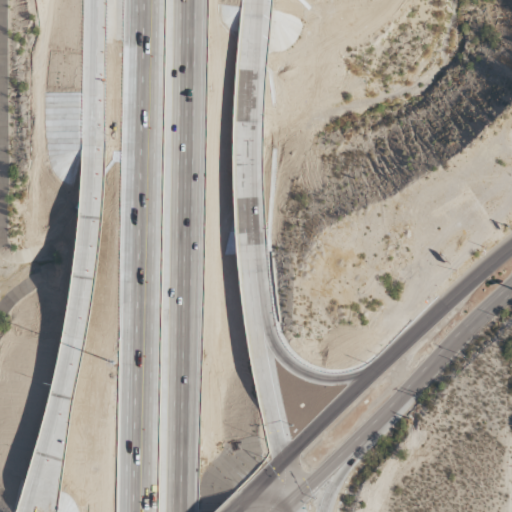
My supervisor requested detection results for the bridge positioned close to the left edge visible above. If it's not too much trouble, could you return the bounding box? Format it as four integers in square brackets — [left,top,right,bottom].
[16,0,106,512]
